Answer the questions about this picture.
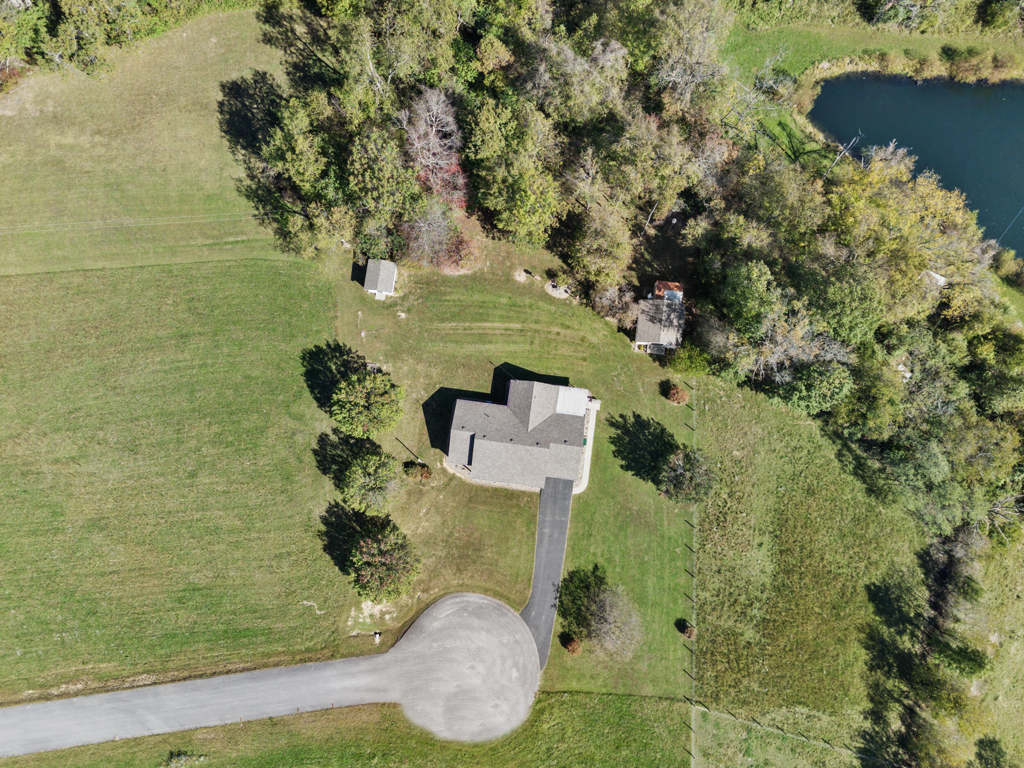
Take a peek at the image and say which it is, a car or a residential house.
residential house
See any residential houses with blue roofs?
No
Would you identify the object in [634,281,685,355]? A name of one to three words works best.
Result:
building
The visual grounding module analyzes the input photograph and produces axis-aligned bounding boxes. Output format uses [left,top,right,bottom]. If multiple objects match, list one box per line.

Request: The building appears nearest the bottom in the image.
[447,379,588,488]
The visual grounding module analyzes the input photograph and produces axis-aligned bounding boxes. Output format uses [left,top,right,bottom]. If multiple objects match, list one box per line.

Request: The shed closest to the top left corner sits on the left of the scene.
[364,259,398,301]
